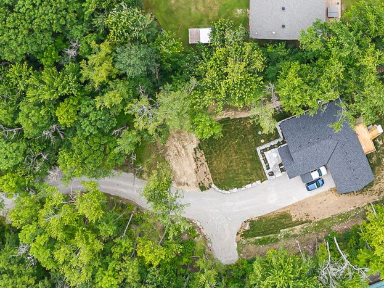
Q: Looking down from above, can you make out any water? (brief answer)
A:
No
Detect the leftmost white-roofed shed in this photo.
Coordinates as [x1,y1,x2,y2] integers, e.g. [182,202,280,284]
[187,30,211,45]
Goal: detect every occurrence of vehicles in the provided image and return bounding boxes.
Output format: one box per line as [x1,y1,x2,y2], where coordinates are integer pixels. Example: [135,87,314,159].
[300,165,327,184]
[305,177,325,191]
